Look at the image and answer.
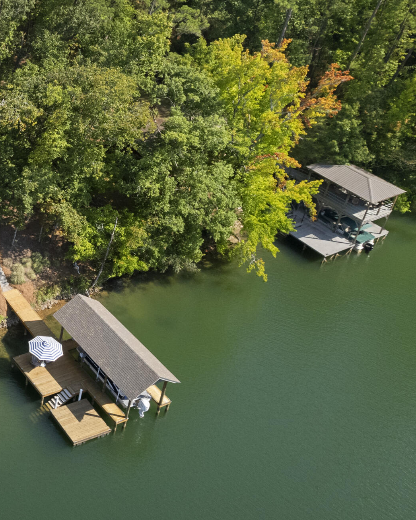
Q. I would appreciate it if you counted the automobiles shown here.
none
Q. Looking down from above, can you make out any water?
Yes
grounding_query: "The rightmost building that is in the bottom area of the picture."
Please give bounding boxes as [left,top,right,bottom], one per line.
[52,295,181,426]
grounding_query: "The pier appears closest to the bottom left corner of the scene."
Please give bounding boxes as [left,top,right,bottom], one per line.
[50,399,113,448]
